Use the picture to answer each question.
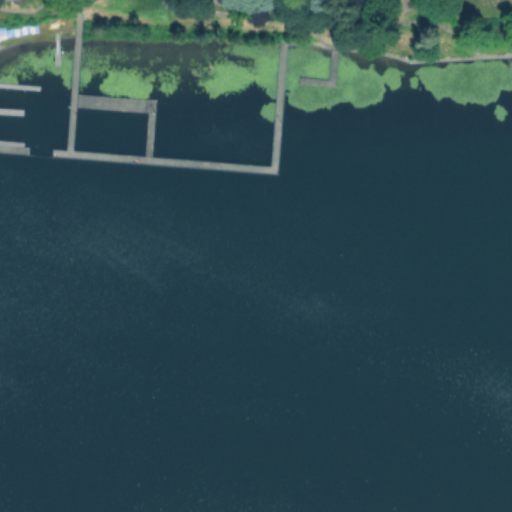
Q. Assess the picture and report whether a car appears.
No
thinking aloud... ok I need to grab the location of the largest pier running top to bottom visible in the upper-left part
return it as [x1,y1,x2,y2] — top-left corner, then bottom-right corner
[68,12,84,150]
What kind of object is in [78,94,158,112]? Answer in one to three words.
pier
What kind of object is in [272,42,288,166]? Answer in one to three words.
pier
